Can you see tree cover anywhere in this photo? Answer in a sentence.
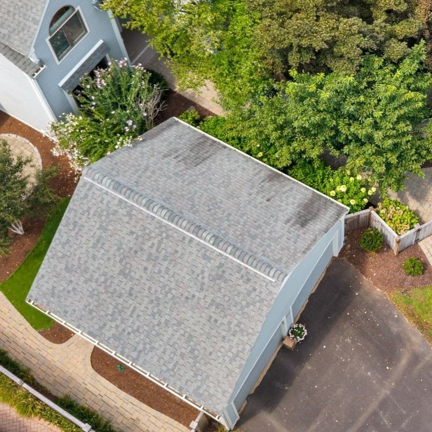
Yes, there is tree cover in the image.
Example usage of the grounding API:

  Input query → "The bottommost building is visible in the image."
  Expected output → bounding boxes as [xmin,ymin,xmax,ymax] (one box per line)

[24,114,352,431]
